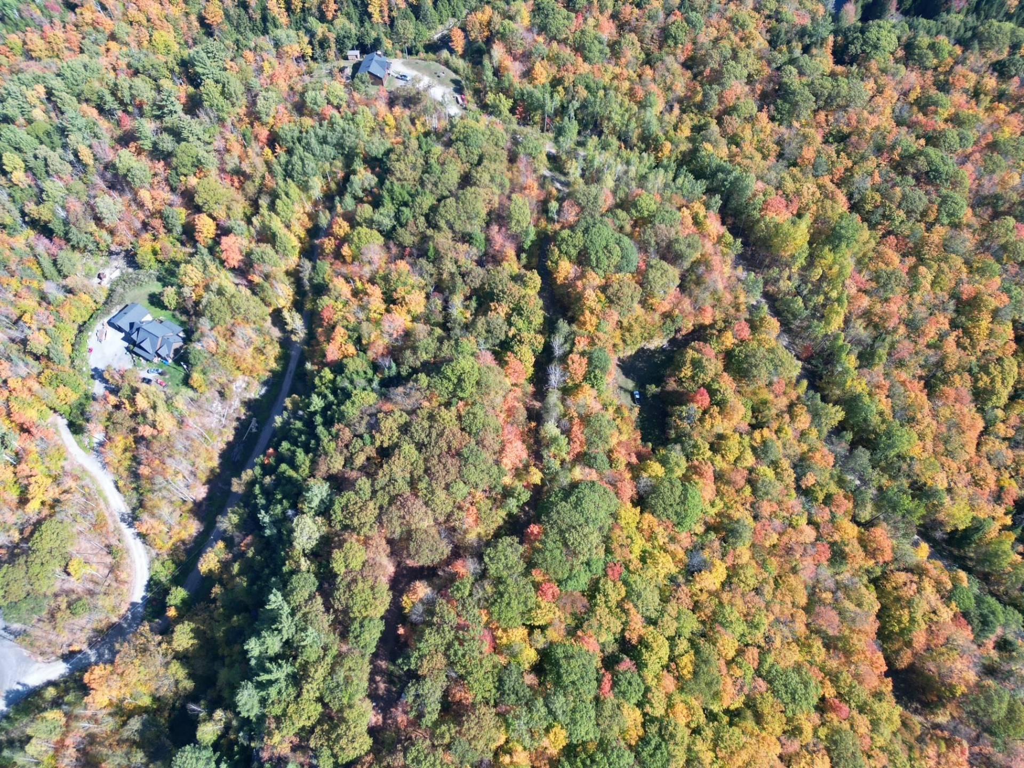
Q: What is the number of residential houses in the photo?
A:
2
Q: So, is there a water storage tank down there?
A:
No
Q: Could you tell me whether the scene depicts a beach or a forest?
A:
forest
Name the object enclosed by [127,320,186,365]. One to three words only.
house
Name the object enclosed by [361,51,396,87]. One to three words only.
house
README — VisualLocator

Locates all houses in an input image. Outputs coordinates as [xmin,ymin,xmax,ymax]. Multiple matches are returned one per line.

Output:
[361,51,396,87]
[127,320,186,365]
